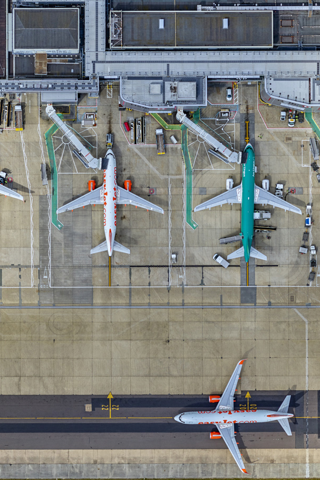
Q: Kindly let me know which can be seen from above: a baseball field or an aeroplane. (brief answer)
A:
aeroplane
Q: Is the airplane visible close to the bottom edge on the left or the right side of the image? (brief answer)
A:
right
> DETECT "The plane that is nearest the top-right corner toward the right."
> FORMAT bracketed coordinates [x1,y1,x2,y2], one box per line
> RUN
[197,143,303,262]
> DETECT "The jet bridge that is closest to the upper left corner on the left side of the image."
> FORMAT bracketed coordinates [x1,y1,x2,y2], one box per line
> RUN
[44,106,107,171]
